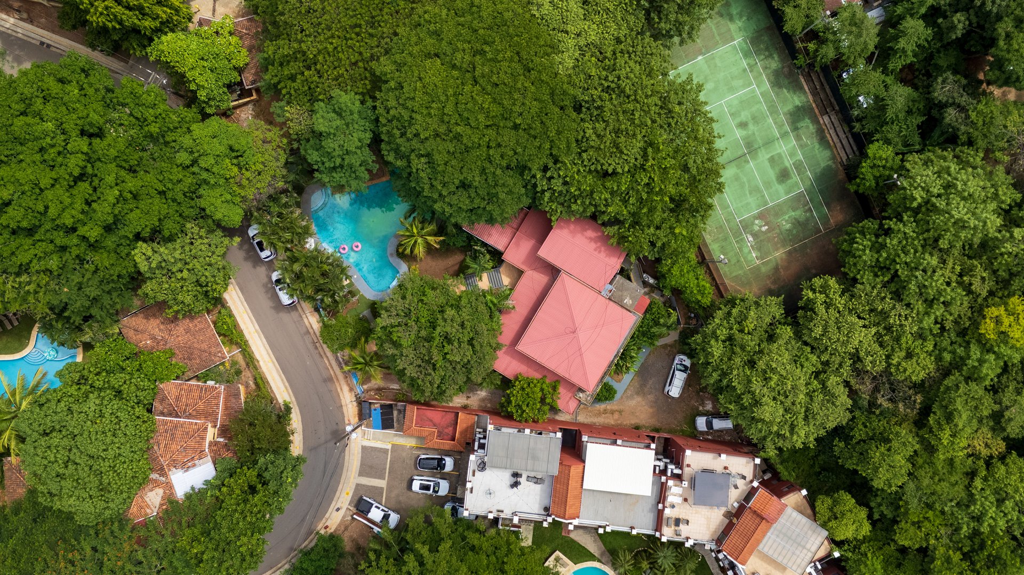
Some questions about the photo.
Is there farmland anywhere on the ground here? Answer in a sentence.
No, farmland can't be seen anywhere here.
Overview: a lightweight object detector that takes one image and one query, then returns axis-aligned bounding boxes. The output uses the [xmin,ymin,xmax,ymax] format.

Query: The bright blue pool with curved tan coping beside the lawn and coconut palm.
[0,323,84,415]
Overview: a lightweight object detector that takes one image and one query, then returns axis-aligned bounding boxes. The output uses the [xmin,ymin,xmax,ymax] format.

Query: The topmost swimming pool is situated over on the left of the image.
[300,173,417,301]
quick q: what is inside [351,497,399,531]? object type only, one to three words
vehicle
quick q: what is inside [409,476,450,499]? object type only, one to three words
car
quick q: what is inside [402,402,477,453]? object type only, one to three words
building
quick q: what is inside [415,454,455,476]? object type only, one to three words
car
